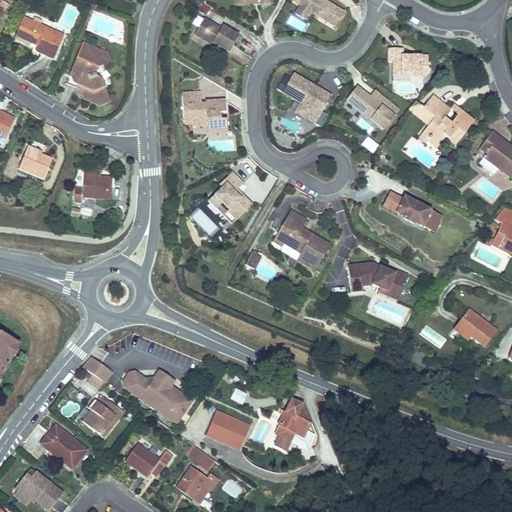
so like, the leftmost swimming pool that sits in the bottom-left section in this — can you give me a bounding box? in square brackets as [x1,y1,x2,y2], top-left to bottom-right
[60,400,80,418]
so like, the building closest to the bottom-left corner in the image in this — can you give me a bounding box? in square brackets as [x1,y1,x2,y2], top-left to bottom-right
[14,468,68,512]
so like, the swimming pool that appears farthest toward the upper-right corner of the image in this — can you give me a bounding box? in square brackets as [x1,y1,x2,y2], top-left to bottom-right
[393,70,432,100]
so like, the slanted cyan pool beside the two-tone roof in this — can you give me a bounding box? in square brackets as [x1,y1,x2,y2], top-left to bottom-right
[58,4,80,34]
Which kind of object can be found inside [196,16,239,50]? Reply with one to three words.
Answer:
house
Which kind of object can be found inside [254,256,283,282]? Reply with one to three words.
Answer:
swimming pool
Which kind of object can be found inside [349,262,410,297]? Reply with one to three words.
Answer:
house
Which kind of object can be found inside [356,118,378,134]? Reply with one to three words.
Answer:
swimming pool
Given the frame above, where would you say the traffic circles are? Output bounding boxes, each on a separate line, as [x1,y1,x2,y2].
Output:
[81,258,152,328]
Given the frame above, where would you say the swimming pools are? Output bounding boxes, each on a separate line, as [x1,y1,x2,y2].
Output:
[285,14,310,34]
[60,400,80,418]
[356,118,378,134]
[470,241,512,272]
[86,10,124,44]
[393,70,432,100]
[366,294,411,328]
[250,410,288,454]
[470,176,502,204]
[402,137,439,169]
[254,256,283,282]
[204,128,236,152]
[58,4,80,34]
